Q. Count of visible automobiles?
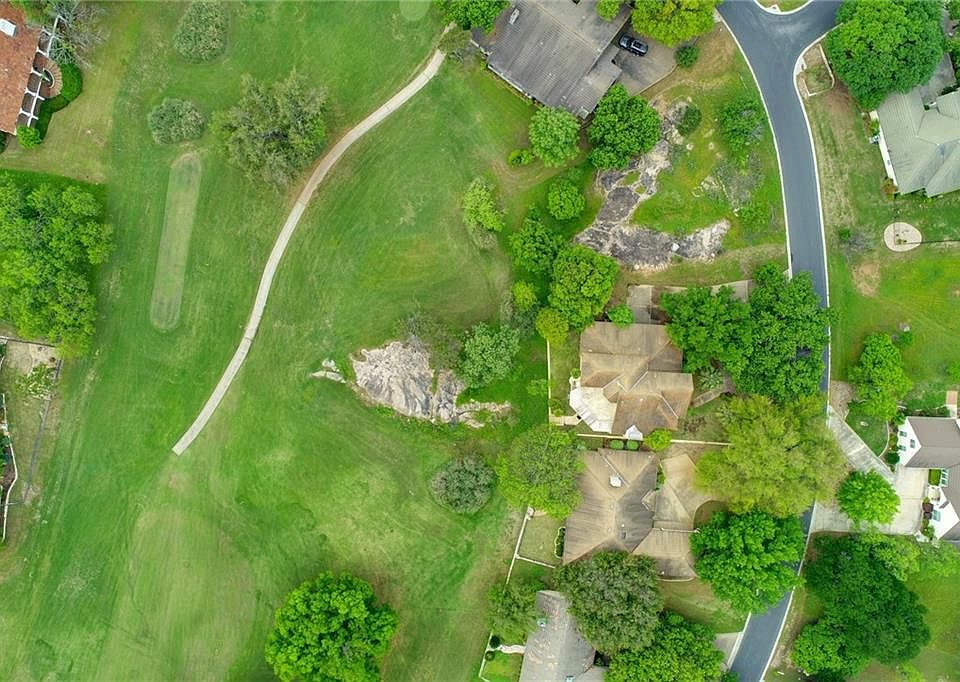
1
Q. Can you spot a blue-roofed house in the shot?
No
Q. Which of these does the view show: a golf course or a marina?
golf course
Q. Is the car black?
Yes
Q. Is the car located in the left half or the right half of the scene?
right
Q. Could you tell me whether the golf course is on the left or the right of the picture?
left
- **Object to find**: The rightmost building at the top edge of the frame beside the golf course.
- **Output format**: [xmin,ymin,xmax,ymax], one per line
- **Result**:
[469,0,638,119]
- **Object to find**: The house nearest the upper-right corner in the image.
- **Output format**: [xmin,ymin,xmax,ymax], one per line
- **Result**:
[865,84,960,197]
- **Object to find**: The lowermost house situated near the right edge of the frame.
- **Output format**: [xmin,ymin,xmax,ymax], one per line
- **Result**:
[897,416,960,542]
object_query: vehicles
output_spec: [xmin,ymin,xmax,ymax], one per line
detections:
[619,33,650,53]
